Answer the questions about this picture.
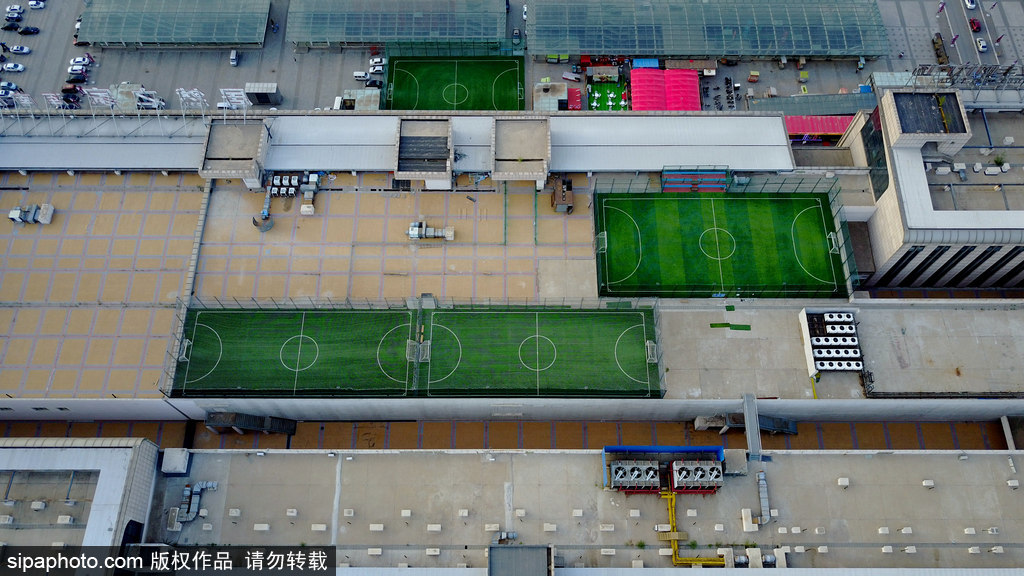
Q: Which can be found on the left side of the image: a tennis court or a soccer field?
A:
soccer field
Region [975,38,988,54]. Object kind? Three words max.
vehicle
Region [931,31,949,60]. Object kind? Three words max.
vehicle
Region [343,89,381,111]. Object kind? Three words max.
shed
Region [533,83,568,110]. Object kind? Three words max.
shed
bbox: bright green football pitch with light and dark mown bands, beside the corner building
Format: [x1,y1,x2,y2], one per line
[598,194,848,286]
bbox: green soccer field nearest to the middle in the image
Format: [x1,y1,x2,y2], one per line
[418,309,664,398]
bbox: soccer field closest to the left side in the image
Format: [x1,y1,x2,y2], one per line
[174,308,422,388]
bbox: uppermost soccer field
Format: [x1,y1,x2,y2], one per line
[384,56,525,111]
